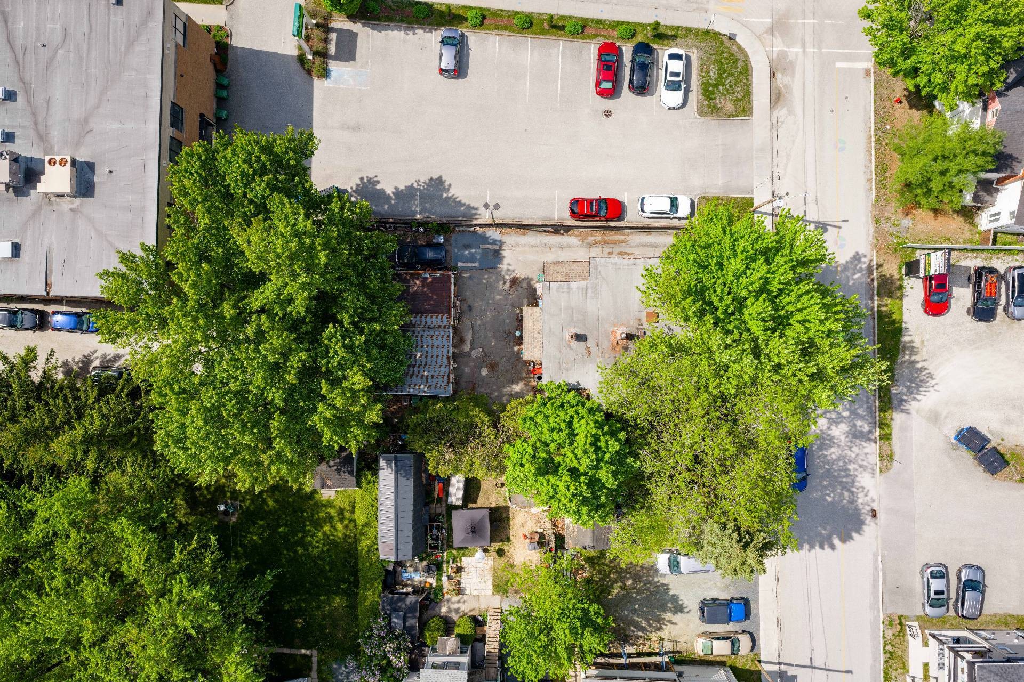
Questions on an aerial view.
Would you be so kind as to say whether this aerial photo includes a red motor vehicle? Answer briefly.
Yes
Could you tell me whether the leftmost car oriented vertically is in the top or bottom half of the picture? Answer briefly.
top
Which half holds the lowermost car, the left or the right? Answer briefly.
right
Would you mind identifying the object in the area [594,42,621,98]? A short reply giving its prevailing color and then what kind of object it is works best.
red car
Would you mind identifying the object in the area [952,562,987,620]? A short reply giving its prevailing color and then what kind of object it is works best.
gray car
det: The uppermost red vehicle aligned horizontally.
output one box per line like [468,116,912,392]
[568,195,622,222]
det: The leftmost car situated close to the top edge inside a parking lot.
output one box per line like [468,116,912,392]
[438,28,464,80]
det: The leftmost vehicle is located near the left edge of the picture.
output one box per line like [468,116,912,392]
[0,306,45,333]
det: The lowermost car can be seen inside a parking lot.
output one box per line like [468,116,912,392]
[694,630,751,658]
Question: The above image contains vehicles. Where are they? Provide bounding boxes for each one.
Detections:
[627,42,655,96]
[50,309,105,335]
[952,562,987,620]
[0,306,45,333]
[658,49,686,110]
[784,441,813,495]
[438,28,464,80]
[920,271,952,320]
[694,630,751,658]
[568,195,622,222]
[920,562,951,618]
[654,549,719,578]
[637,192,691,219]
[1003,265,1024,321]
[698,597,750,626]
[594,42,621,98]
[966,266,1000,319]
